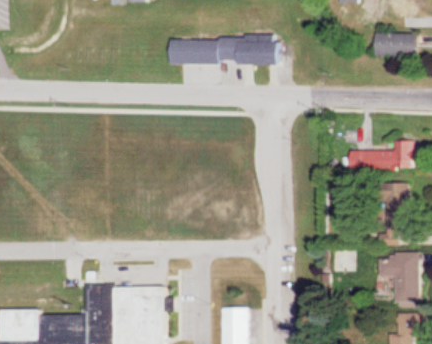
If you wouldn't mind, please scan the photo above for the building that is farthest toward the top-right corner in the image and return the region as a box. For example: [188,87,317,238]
[374,33,422,58]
